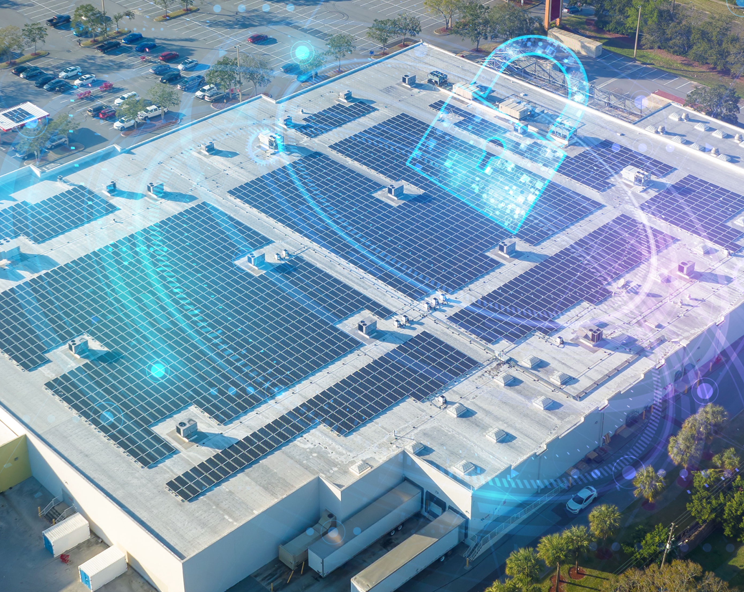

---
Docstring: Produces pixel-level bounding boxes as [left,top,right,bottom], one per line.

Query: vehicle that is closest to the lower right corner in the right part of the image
[566,487,599,515]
